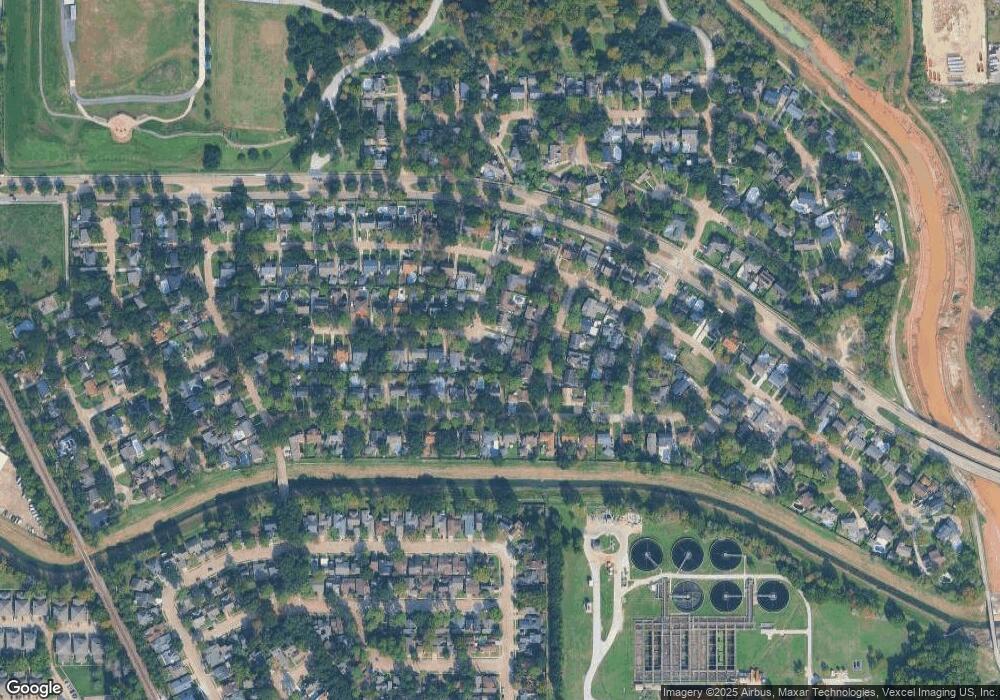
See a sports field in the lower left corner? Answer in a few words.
No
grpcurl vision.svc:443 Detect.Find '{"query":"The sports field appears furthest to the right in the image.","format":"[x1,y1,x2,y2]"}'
[211,3,285,128]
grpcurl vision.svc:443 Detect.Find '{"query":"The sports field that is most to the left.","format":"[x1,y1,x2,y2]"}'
[75,0,195,97]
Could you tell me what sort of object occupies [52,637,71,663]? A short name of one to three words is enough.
house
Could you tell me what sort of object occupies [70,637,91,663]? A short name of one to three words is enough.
house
